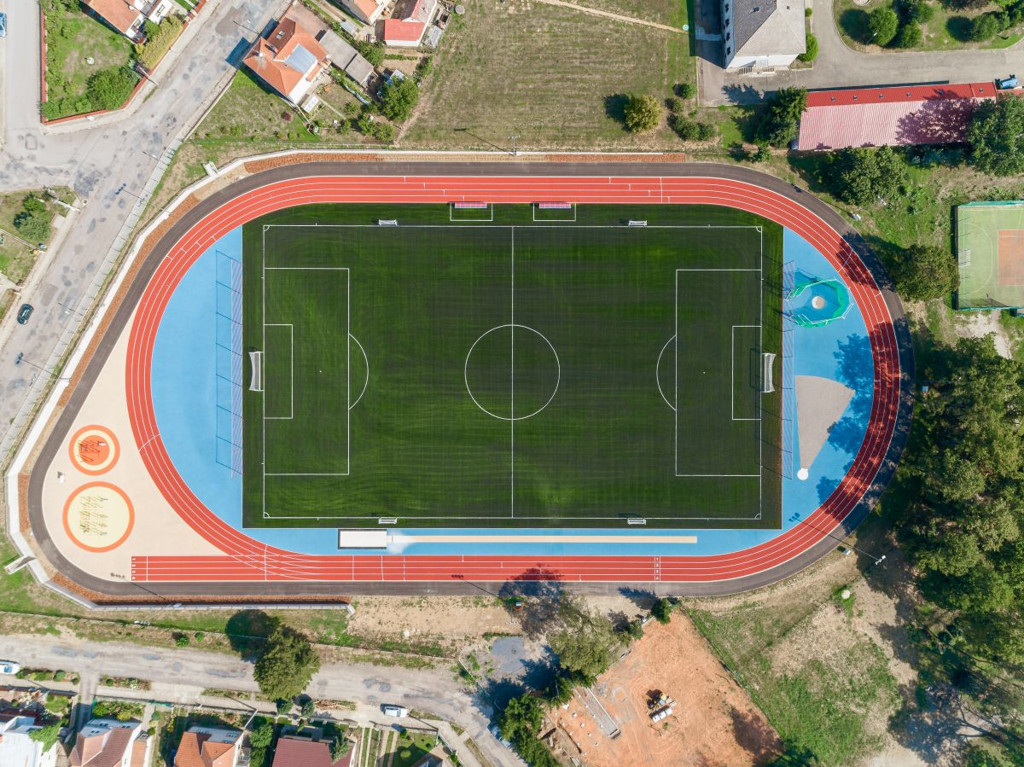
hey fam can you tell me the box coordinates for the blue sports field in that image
[151,225,874,555]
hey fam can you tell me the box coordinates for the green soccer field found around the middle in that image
[242,203,783,529]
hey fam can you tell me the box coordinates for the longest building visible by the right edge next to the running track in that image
[793,82,1004,154]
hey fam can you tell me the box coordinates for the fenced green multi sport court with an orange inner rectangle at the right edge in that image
[960,204,1024,307]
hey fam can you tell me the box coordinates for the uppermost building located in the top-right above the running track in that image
[726,0,803,78]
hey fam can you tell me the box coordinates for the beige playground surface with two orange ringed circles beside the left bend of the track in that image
[42,287,228,582]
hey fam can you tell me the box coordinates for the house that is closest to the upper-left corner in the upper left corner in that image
[84,0,149,43]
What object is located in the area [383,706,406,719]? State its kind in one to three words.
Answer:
vehicle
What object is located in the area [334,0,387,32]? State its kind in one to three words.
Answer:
house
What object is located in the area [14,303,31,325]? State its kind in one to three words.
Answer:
car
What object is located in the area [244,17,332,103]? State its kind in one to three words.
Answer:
house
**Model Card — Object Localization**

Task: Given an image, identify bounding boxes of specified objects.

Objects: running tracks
[125,176,901,582]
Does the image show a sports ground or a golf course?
sports ground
